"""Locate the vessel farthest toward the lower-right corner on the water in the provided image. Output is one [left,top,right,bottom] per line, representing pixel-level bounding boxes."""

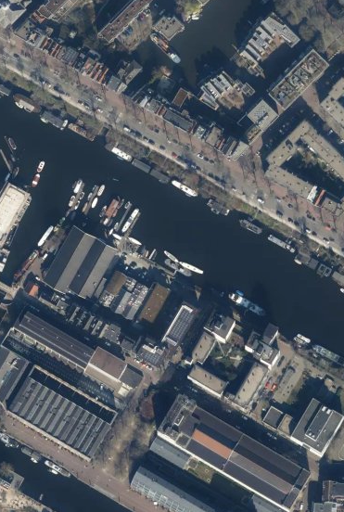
[312,344,344,366]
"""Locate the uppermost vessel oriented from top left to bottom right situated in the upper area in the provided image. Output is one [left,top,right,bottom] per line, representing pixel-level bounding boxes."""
[155,39,183,65]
